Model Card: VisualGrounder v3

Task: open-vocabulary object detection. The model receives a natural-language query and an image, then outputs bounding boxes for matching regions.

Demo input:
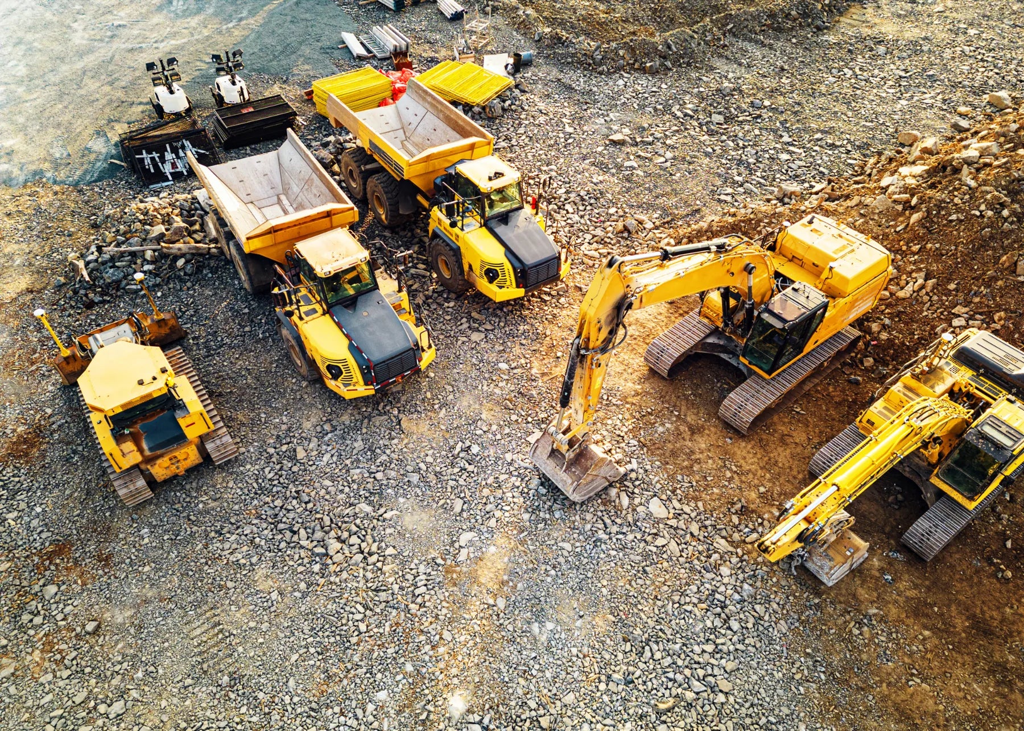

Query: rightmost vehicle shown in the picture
[753,323,1024,591]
